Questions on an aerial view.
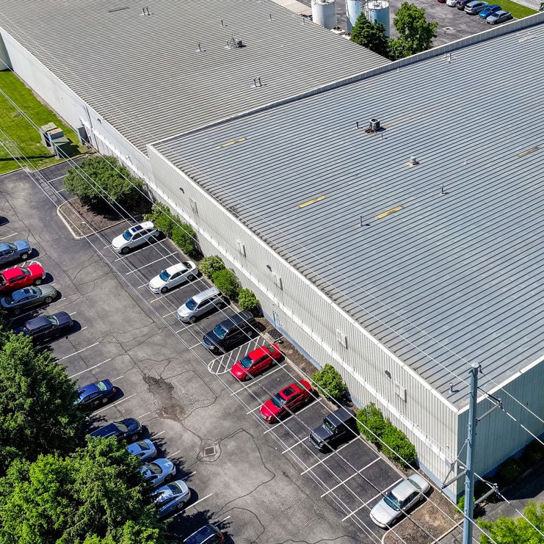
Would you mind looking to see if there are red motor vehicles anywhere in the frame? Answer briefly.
Yes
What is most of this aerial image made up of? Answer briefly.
buildings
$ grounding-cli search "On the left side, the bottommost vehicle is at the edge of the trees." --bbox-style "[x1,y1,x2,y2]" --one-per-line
[185,512,246,544]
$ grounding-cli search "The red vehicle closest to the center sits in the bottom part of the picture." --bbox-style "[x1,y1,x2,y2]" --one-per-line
[228,347,285,384]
